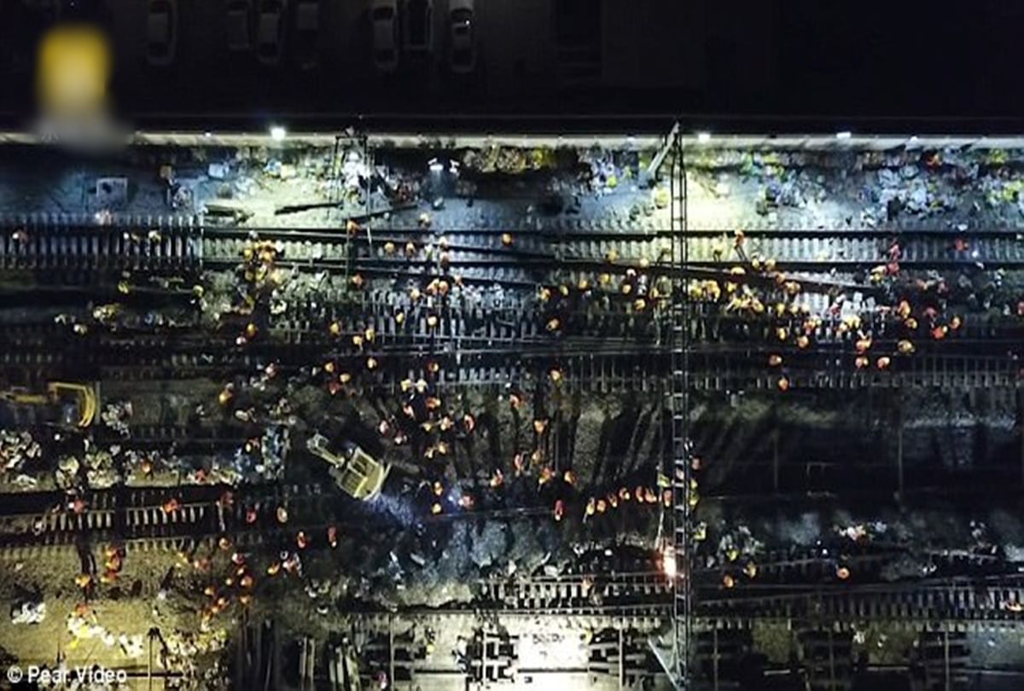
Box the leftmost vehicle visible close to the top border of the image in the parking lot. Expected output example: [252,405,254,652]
[133,0,178,65]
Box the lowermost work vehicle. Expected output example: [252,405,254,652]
[301,435,403,514]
